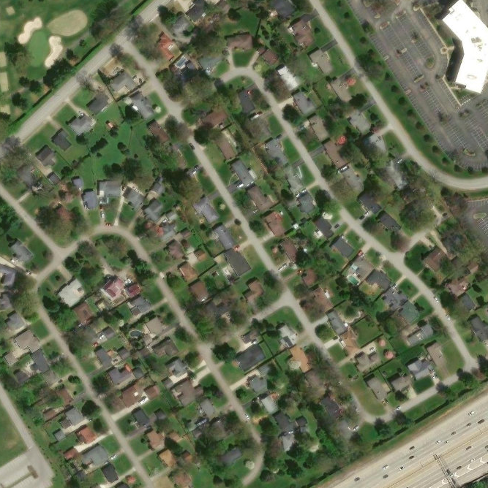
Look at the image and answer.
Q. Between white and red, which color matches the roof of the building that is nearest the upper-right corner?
white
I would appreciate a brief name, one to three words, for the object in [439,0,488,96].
building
